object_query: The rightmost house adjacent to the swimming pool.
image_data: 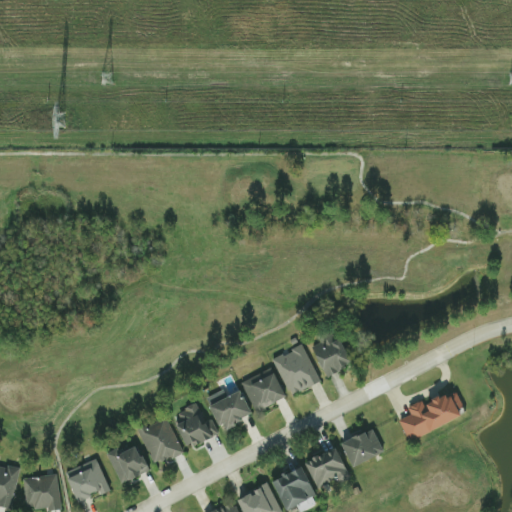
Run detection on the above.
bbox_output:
[243,368,286,413]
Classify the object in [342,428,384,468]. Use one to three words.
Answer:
house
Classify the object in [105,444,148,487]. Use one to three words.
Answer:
house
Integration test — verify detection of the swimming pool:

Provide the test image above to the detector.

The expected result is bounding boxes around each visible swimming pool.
[218,376,240,398]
